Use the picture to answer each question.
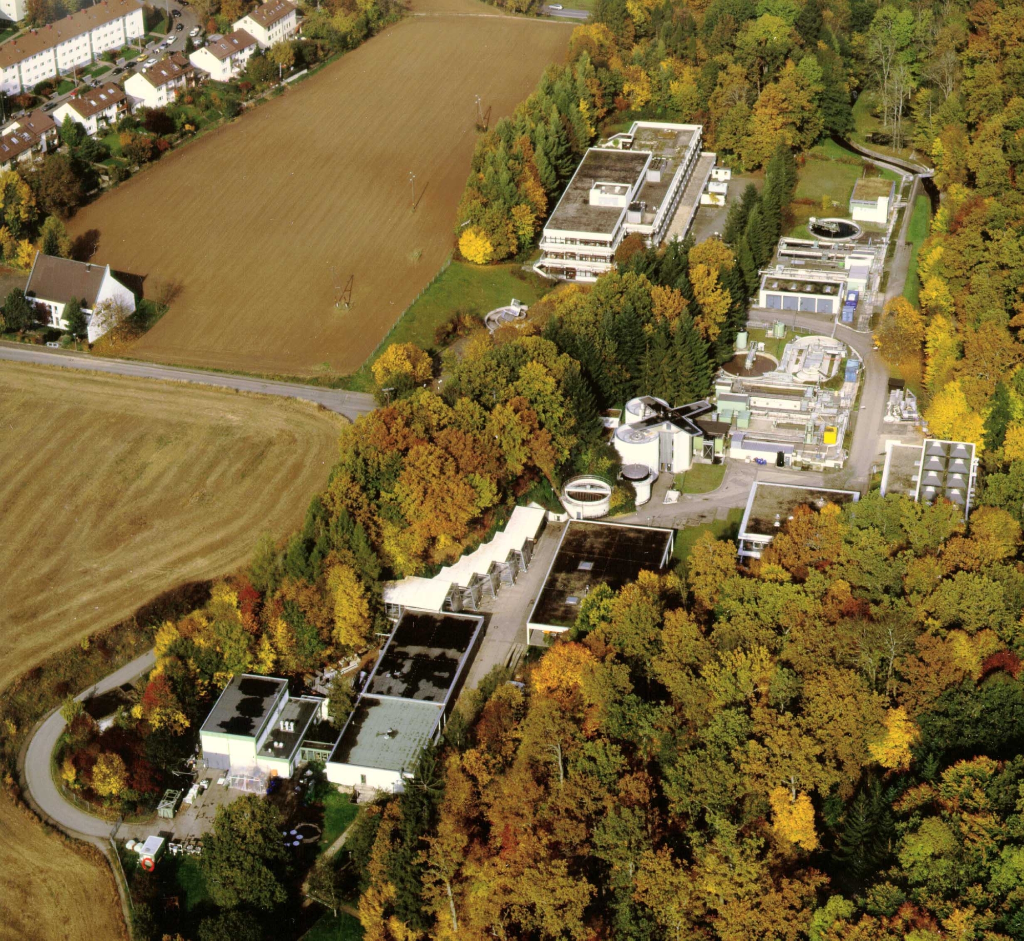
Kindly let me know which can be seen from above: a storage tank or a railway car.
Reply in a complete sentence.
The image shows a storage tank.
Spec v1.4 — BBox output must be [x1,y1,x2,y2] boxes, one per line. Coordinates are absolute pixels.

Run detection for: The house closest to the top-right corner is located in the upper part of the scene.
[849,178,899,222]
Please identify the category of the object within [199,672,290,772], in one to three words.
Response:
building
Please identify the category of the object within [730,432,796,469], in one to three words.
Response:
shed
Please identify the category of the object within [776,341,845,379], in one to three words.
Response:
storage tank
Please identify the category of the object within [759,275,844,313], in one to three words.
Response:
building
